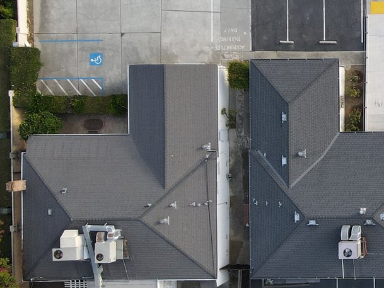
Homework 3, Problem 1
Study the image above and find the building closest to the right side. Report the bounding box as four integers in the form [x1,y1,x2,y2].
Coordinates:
[248,58,384,288]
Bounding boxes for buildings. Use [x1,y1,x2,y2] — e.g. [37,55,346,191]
[248,58,384,288]
[6,64,228,281]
